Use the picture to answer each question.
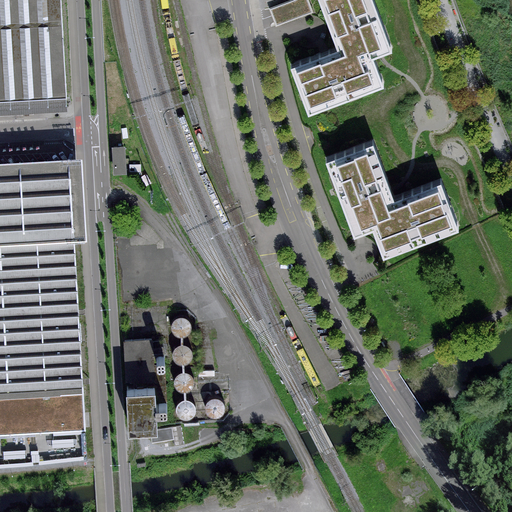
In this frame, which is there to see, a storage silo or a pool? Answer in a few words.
storage silo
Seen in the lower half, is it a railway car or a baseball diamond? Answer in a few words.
railway car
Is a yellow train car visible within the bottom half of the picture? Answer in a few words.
Yes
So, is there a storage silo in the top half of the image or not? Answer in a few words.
No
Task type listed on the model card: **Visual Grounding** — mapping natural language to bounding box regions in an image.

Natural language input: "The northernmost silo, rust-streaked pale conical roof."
[171,314,192,338]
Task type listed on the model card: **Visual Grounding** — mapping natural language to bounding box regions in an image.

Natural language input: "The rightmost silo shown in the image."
[205,394,224,418]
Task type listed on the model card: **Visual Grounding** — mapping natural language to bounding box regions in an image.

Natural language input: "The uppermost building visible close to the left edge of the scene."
[0,0,68,114]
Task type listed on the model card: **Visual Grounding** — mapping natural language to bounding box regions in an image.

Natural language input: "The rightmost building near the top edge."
[294,0,392,114]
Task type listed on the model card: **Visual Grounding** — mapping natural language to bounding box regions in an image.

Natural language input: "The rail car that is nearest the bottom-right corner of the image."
[297,346,320,387]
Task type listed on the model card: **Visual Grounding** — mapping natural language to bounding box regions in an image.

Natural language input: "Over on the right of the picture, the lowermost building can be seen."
[326,141,457,260]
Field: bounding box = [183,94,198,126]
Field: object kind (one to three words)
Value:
rail car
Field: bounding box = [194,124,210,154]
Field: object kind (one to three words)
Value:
rail car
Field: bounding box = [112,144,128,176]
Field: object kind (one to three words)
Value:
building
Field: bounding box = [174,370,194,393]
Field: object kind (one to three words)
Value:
silo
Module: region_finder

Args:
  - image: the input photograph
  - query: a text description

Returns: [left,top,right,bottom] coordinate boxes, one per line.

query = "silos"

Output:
[174,370,194,393]
[205,394,224,418]
[176,397,196,421]
[172,342,192,366]
[171,314,192,338]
